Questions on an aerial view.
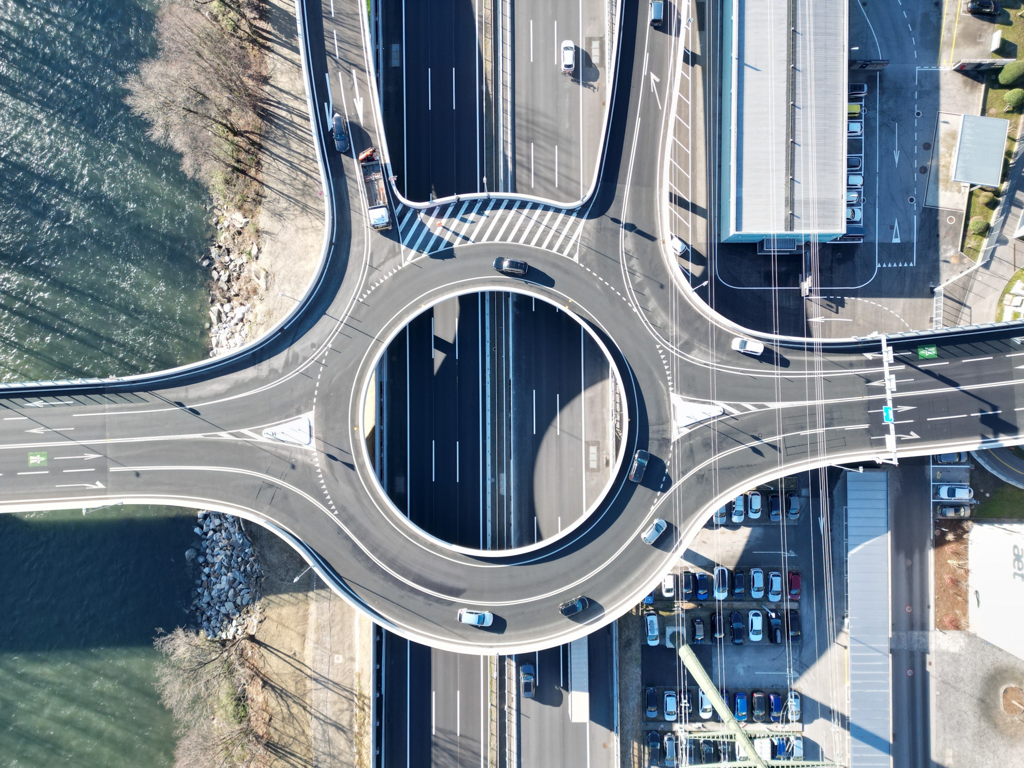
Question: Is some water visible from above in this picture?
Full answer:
Yes, there is water in the image.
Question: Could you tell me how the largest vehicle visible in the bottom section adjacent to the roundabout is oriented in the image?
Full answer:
Seen from above, the largest vehicle visible in the bottom section adjacent to the roundabout lies from top to bottom.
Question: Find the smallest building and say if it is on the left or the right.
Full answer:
It is on the right.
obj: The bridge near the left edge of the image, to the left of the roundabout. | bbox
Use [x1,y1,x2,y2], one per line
[0,379,109,513]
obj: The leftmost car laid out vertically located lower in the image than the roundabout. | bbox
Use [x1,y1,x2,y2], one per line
[519,661,535,696]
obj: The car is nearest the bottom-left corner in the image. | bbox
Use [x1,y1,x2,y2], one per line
[457,607,493,626]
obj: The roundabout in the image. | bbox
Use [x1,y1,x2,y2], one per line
[103,177,876,655]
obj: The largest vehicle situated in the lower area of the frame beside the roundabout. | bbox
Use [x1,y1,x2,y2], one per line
[569,633,589,721]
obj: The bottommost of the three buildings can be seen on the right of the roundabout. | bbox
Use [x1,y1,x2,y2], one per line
[966,523,1024,663]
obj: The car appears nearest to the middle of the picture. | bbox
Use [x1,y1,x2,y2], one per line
[494,257,528,276]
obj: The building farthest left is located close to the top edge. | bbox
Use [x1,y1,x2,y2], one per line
[721,0,848,258]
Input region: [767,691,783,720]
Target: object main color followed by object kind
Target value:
blue car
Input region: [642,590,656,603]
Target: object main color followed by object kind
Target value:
blue vehicle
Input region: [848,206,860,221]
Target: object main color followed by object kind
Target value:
blue vehicle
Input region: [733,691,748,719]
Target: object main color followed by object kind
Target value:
blue car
